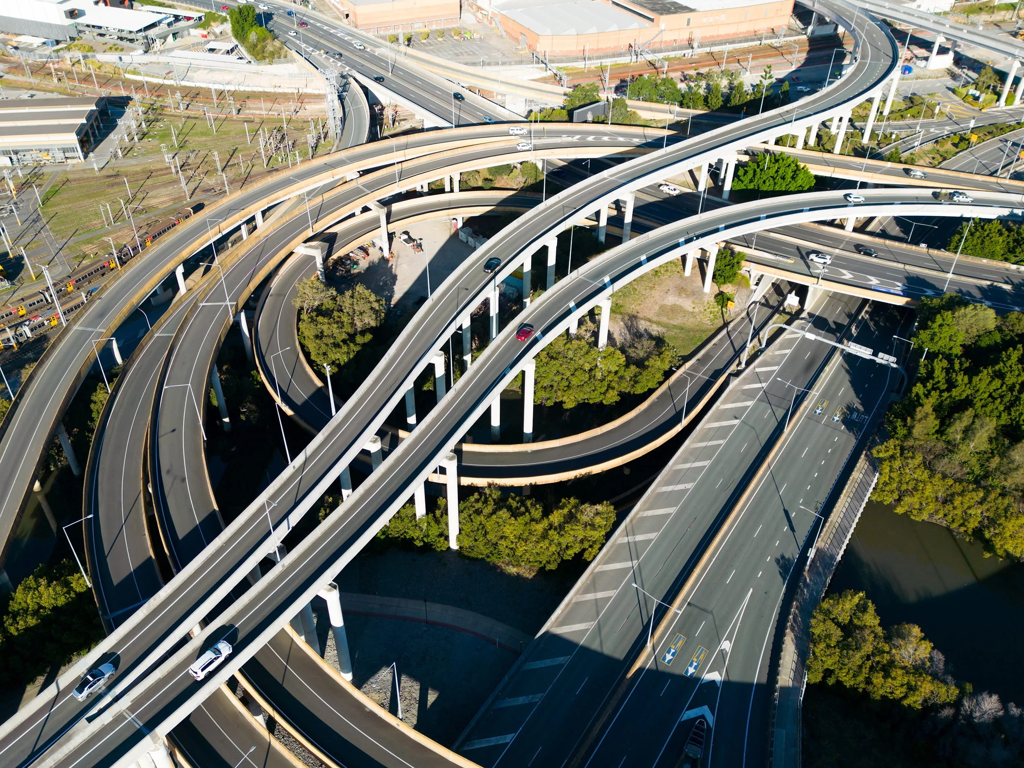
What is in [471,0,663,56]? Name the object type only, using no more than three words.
building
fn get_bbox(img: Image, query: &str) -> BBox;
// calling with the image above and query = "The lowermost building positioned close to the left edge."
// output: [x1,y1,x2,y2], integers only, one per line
[0,97,111,167]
